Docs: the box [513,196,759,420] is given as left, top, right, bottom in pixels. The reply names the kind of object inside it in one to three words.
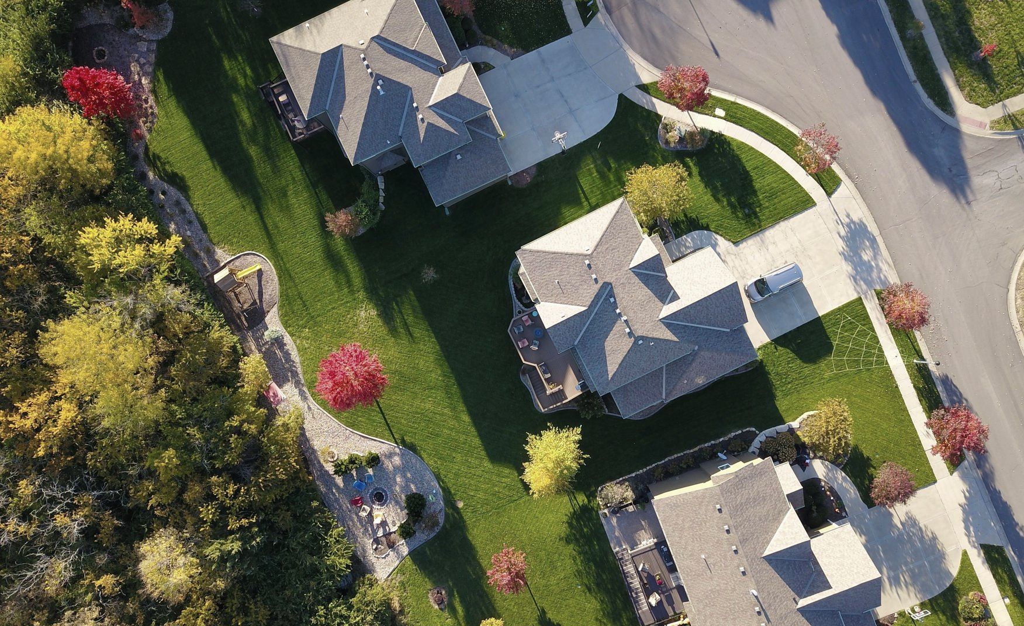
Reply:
house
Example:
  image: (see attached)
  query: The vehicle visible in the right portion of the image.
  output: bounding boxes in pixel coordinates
[744,263,807,302]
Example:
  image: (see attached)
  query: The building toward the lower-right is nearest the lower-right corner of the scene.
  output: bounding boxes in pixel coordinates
[646,449,882,626]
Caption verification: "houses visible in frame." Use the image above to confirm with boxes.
[268,0,511,212]
[513,196,759,420]
[646,449,882,626]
